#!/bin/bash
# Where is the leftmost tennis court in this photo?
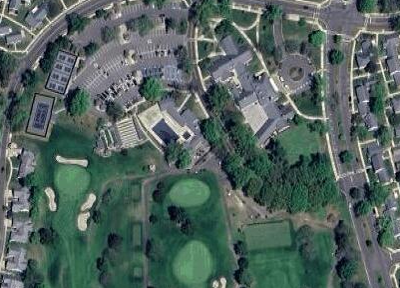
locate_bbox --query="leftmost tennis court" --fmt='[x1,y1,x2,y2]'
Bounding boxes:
[24,93,56,139]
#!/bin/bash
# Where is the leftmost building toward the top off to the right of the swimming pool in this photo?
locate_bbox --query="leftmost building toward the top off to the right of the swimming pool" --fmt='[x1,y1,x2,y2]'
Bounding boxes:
[211,36,294,143]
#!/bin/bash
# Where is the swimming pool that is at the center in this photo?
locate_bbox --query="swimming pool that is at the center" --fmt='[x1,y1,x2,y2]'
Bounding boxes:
[137,103,194,147]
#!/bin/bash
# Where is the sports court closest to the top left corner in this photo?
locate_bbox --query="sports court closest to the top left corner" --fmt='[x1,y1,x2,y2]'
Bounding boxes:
[44,50,78,94]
